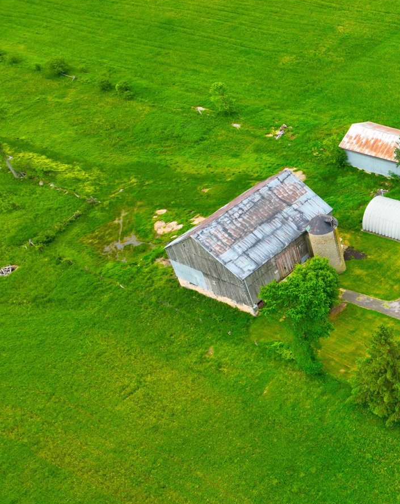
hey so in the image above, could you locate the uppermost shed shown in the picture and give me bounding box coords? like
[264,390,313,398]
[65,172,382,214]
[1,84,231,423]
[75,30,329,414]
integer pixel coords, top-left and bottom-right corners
[340,124,400,179]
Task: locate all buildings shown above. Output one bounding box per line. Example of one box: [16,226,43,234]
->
[340,124,400,179]
[163,172,333,316]
[360,190,400,242]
